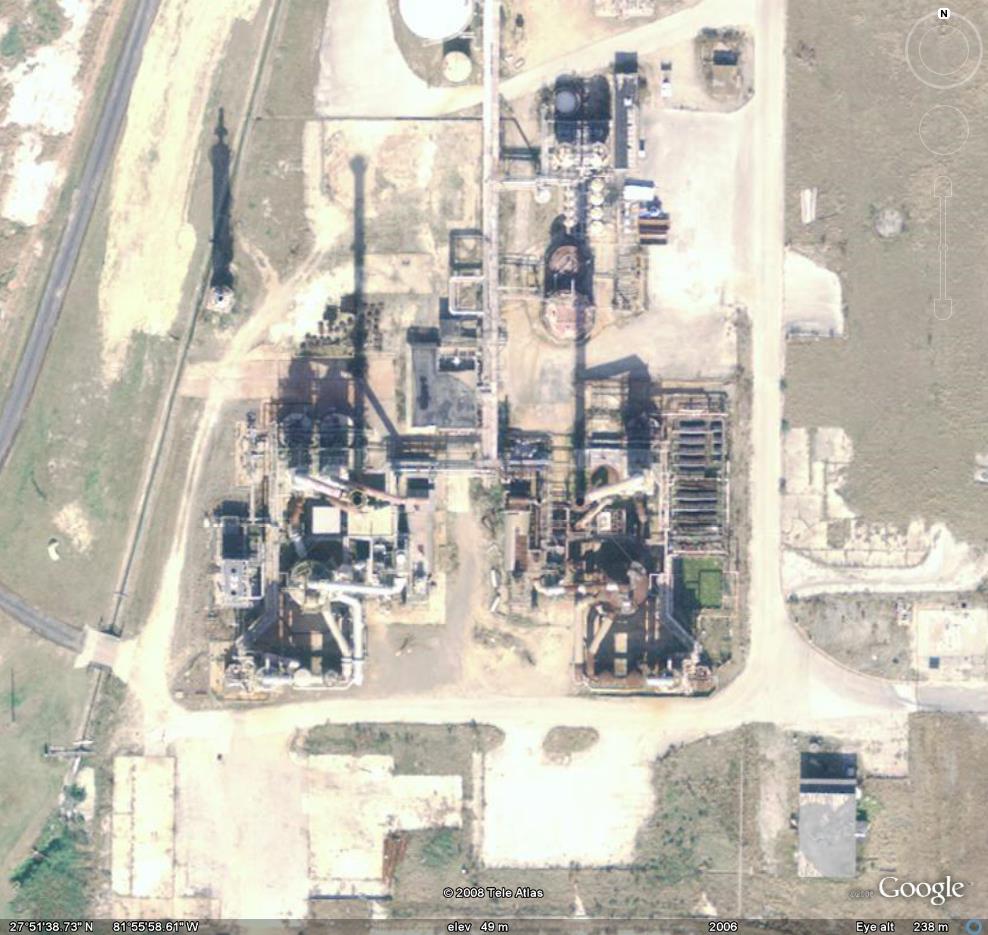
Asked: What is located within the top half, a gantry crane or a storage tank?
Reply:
storage tank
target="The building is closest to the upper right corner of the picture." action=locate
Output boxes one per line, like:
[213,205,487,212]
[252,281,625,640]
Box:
[713,65,737,78]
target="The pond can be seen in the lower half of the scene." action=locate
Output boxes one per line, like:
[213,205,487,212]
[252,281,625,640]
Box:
[674,556,724,608]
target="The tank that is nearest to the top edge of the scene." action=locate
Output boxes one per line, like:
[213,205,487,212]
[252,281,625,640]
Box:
[396,0,476,41]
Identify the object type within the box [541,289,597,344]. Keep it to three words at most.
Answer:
storage tank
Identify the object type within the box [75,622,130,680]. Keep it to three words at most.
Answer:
bridge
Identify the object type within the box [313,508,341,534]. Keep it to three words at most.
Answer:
building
